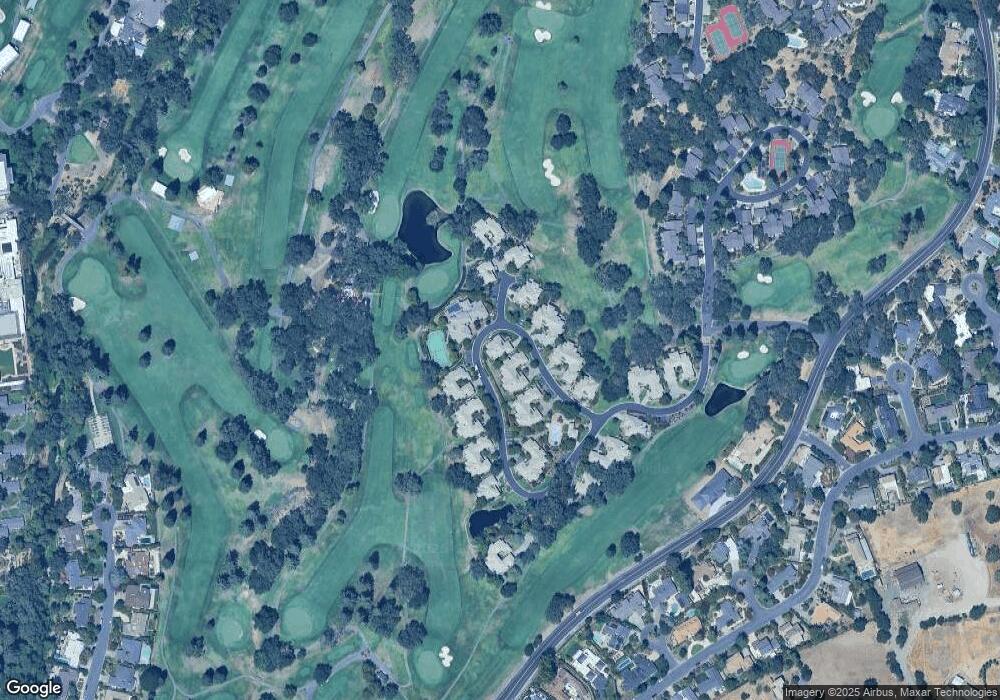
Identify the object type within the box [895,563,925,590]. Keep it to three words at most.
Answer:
barn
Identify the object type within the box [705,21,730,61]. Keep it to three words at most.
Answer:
tennis court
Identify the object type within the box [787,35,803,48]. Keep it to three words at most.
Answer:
swimming pool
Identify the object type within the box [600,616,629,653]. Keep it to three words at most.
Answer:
house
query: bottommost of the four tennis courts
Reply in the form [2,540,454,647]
[427,330,452,367]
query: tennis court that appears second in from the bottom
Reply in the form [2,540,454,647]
[769,139,792,172]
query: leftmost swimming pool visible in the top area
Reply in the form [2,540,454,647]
[742,175,764,189]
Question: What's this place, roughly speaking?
golf course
